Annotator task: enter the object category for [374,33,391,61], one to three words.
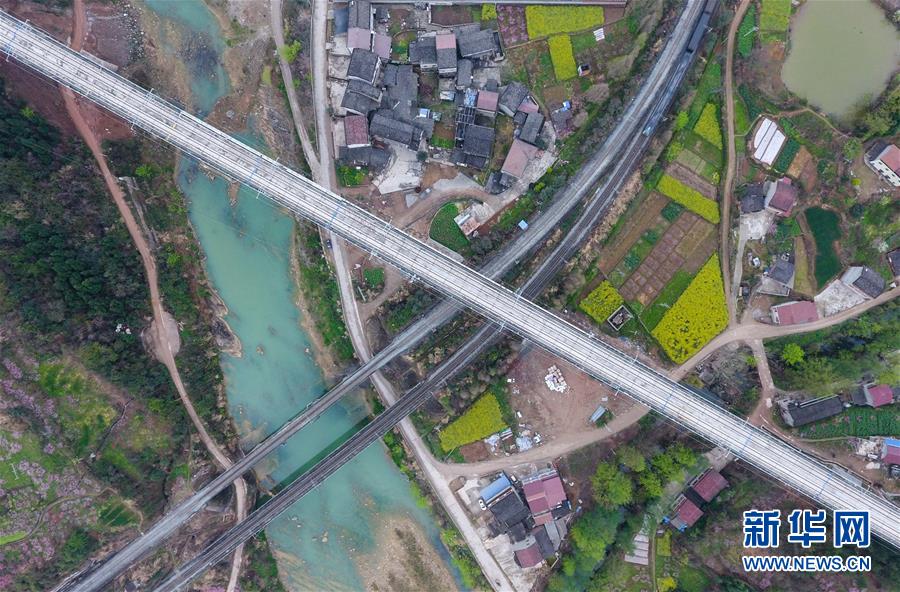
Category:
shed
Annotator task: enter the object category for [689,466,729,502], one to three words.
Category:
house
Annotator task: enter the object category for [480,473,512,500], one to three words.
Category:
building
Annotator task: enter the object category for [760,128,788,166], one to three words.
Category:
greenhouse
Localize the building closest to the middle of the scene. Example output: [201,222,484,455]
[454,206,481,235]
